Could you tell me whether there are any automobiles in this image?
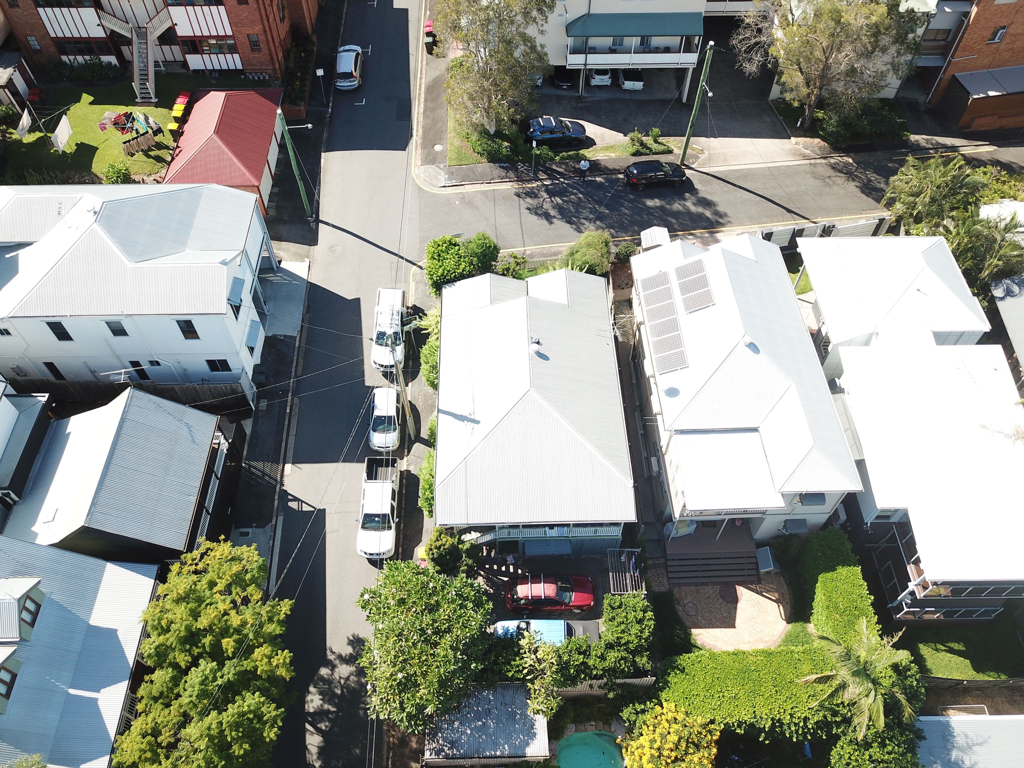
Yes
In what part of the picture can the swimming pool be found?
bottom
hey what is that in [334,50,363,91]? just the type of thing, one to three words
car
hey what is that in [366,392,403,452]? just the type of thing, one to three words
car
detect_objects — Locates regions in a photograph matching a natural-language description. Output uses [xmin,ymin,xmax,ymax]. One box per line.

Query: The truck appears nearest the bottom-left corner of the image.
[352,461,399,559]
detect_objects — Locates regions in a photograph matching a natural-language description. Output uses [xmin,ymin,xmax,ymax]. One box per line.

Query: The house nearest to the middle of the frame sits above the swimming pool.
[434,268,638,556]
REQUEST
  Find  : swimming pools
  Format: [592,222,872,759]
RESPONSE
[557,729,625,768]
